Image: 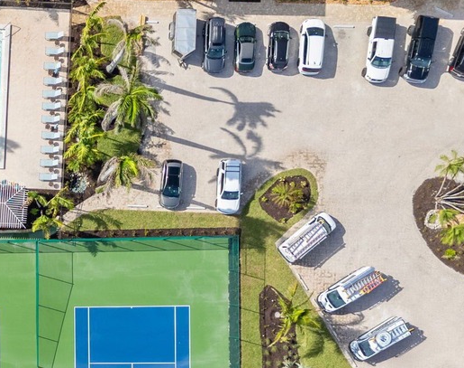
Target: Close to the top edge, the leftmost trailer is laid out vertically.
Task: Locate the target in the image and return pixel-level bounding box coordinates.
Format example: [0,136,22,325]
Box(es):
[168,15,197,77]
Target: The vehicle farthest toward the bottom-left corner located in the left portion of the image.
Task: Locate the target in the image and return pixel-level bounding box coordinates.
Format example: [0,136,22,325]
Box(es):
[159,159,184,210]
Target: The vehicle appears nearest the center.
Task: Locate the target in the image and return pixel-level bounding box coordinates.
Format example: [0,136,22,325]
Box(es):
[216,160,242,213]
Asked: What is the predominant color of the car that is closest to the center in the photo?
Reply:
white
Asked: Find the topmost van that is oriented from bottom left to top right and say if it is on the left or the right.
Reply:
right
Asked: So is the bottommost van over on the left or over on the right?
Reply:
right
